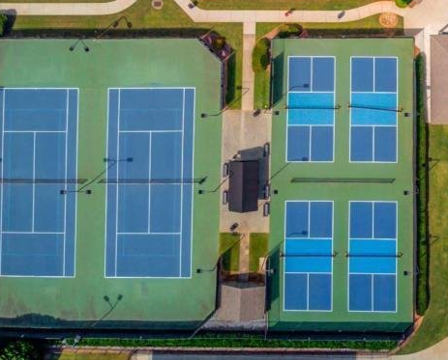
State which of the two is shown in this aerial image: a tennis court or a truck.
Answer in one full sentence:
Visible in the photo is a tennis court.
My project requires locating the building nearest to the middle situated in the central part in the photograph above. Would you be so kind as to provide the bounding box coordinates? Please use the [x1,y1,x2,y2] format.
[229,161,259,214]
